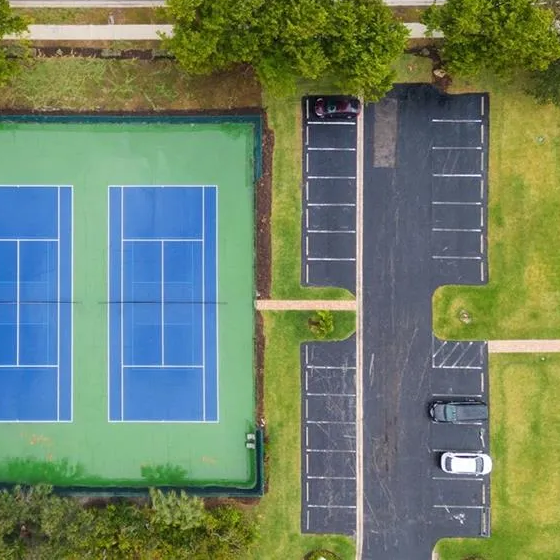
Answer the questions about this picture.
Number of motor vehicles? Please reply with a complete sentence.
The picture shows 3 motor vehicles.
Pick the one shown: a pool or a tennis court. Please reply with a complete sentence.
Visible in the photo is a tennis court.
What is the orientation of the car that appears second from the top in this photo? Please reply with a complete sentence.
What the image shows is the car that appears second from the top lying horizontally.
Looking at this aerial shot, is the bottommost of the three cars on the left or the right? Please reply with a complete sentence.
The bottommost of the three cars appears in the right half of the scene.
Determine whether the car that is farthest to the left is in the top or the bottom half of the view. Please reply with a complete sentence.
You can find the car that is farthest to the left in the top half.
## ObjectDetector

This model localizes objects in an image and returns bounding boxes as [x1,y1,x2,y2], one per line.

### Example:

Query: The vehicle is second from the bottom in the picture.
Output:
[428,399,487,423]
